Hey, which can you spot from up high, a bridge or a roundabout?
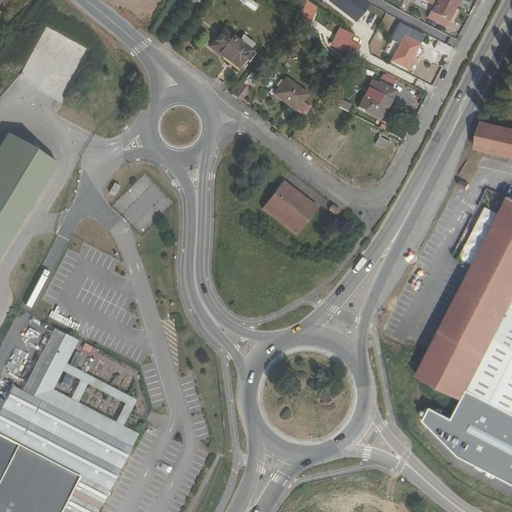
roundabout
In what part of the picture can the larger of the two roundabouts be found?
bottom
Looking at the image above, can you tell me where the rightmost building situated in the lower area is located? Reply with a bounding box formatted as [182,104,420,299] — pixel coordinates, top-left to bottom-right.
[468,304,512,413]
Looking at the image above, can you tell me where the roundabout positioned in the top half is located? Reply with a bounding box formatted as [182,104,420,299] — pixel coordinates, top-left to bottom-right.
[143,90,218,164]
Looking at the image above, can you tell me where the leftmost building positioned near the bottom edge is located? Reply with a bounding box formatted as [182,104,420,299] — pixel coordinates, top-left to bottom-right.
[0,328,139,512]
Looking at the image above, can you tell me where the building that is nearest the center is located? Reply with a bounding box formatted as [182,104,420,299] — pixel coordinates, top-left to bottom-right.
[263,180,318,235]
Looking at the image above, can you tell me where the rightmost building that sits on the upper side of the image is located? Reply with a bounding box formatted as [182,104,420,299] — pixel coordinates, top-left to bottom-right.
[473,121,512,161]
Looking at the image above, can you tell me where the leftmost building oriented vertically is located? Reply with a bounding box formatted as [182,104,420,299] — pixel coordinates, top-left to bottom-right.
[0,132,57,254]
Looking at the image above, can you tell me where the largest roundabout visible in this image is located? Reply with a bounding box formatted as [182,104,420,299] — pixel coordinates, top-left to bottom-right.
[243,331,372,460]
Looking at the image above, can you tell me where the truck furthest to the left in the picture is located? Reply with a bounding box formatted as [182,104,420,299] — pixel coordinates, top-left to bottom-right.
[26,268,49,308]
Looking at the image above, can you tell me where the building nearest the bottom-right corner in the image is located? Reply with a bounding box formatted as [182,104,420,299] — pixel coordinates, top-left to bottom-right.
[422,392,512,486]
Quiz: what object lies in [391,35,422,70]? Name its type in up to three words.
house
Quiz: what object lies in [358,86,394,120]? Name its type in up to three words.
house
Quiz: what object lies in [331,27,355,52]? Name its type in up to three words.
building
